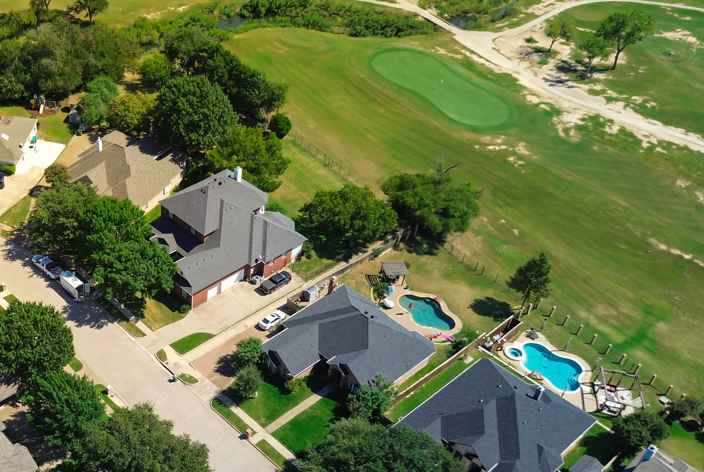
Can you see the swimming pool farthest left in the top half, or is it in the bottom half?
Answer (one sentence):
The swimming pool farthest left is in the bottom half of the image.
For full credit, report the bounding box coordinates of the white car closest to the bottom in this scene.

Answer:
[258,311,286,328]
